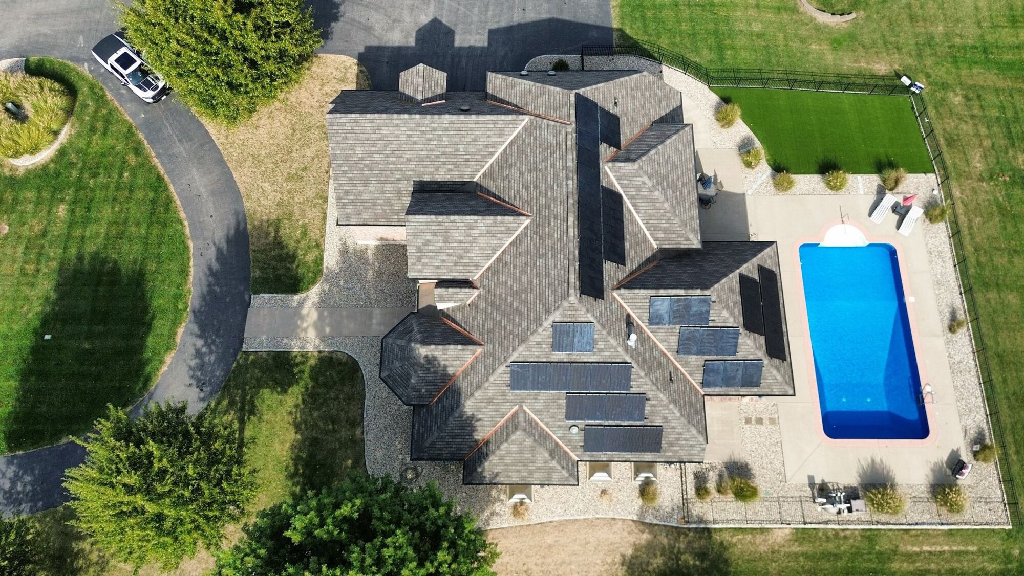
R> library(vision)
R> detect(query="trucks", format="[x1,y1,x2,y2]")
[93,36,174,108]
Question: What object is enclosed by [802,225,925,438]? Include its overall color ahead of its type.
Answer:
blue swimming pool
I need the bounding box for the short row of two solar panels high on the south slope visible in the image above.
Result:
[547,323,599,354]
